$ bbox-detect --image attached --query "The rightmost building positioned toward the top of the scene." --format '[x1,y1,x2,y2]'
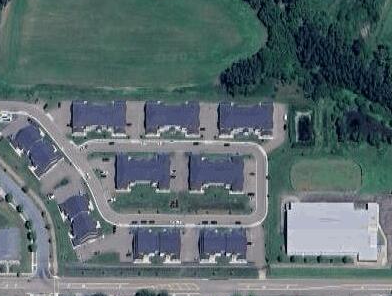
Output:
[219,100,273,136]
